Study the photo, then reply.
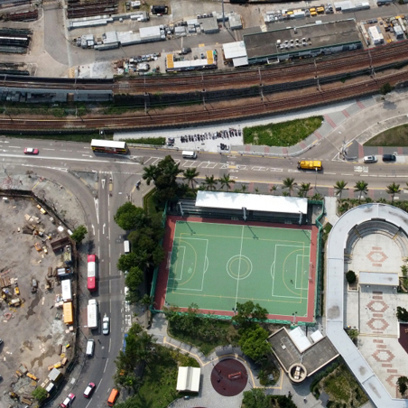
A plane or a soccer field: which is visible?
soccer field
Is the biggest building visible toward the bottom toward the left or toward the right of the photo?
right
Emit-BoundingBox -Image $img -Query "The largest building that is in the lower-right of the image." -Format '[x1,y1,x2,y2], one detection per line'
[268,328,338,386]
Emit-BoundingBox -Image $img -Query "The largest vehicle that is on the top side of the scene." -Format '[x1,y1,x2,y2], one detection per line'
[90,141,127,154]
